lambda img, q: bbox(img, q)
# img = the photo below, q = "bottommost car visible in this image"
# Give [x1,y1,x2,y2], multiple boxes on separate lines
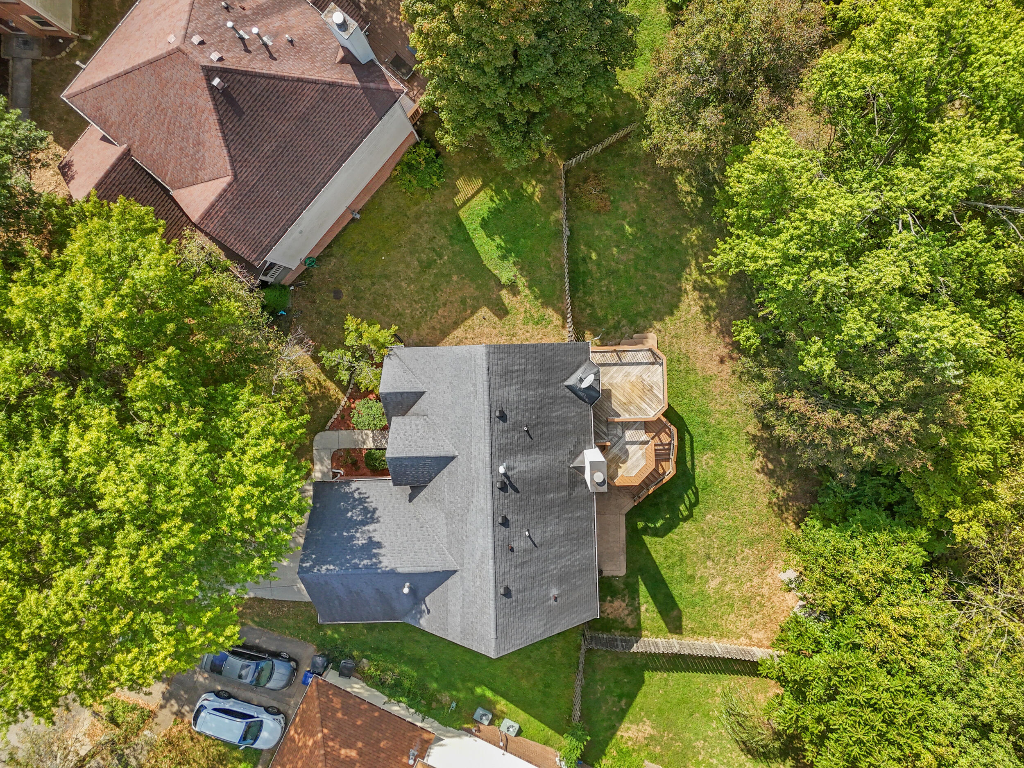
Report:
[192,689,287,749]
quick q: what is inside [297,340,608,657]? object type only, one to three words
house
